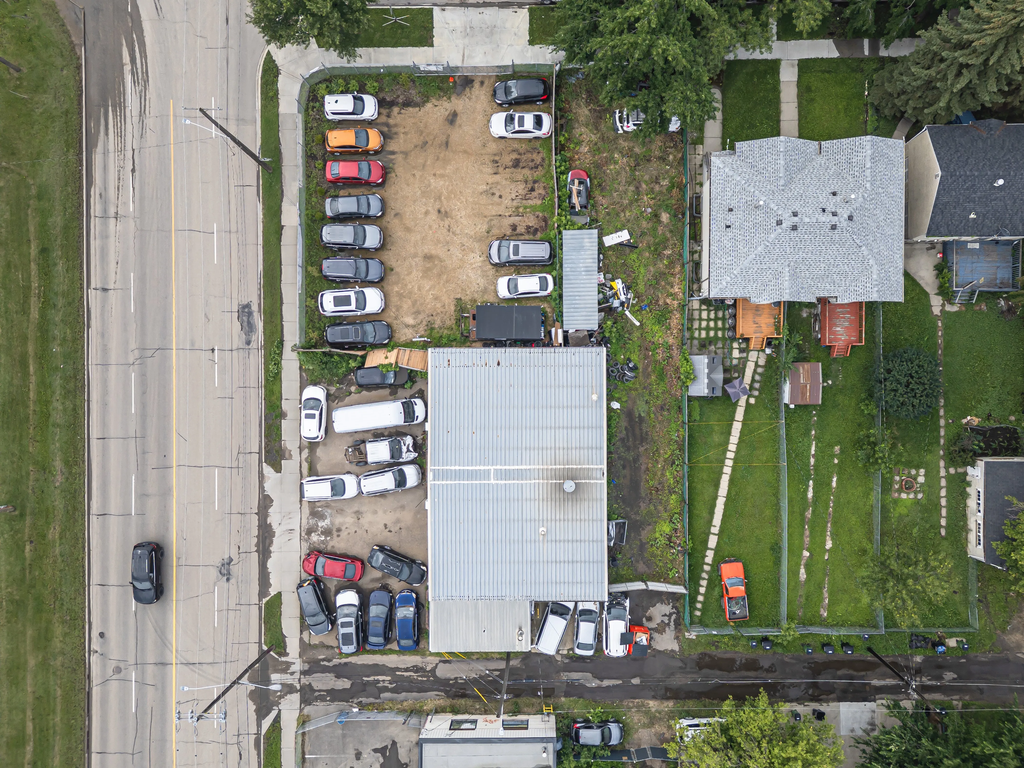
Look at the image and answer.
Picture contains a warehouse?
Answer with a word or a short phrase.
Yes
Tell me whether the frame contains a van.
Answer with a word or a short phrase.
Yes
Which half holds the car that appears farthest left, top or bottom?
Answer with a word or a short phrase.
bottom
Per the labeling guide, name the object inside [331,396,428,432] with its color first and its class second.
white van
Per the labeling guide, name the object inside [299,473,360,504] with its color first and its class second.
white car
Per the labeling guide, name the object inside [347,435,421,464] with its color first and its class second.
white truck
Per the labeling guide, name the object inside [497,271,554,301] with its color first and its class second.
white car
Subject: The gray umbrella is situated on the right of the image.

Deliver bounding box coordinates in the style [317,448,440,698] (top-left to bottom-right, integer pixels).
[724,377,750,402]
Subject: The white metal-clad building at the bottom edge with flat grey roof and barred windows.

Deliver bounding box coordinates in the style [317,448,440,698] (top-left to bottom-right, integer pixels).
[418,707,558,768]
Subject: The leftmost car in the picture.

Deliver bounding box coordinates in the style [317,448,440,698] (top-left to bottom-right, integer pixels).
[129,541,164,603]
